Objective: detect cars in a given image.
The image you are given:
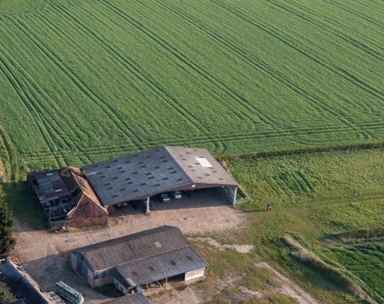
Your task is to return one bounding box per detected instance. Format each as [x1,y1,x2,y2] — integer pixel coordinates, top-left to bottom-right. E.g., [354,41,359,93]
[173,191,184,200]
[161,195,170,205]
[130,203,140,212]
[186,190,197,198]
